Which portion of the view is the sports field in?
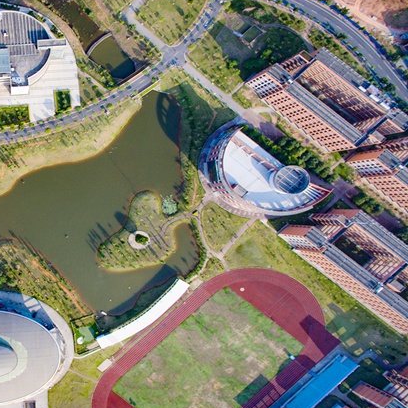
bottom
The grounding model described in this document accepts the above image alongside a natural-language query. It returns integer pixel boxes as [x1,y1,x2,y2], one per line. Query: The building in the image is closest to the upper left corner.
[0,9,66,97]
